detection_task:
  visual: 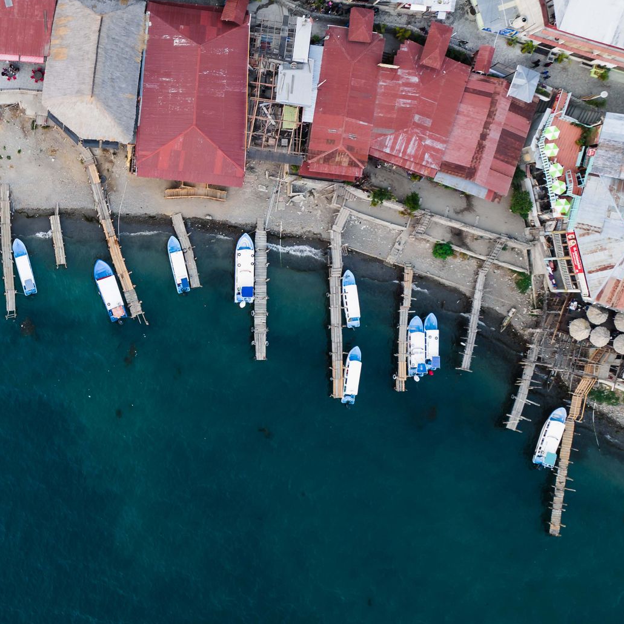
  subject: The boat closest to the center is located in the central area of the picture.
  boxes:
[342,270,362,330]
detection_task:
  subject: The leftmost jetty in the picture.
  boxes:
[0,185,17,319]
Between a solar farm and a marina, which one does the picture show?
marina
